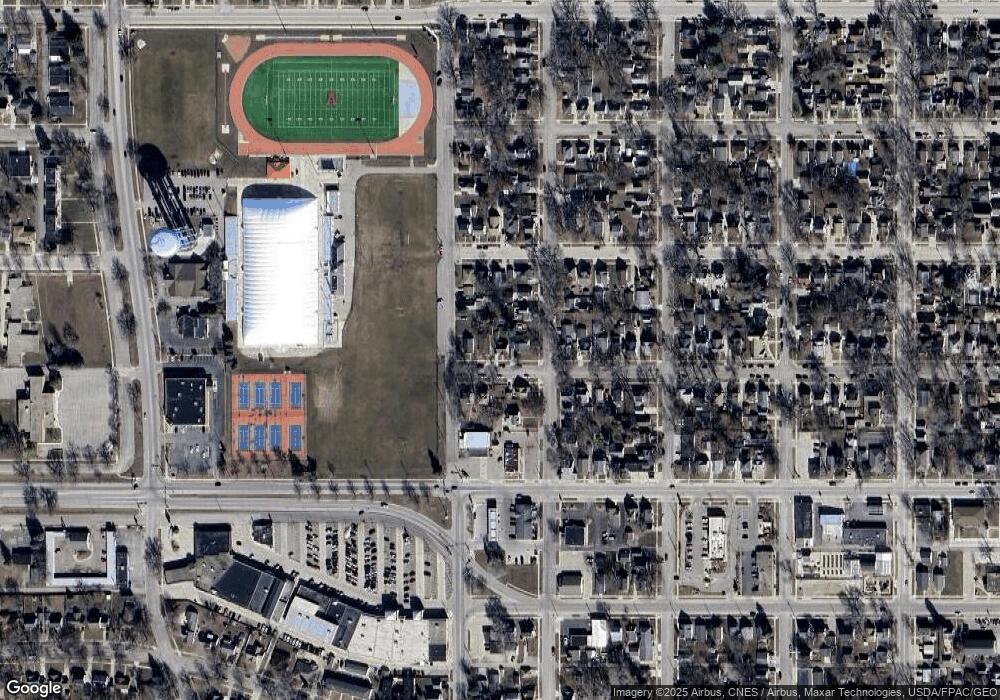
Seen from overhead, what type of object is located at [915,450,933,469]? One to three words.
house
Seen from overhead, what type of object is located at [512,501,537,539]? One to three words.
building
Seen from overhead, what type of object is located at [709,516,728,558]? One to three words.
building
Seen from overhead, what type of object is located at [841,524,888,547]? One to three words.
shed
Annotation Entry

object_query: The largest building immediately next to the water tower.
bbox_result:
[166,264,208,297]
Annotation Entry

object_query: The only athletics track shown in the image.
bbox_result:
[229,43,433,155]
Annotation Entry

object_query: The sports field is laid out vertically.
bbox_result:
[308,175,437,478]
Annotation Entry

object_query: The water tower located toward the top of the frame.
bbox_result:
[149,226,203,260]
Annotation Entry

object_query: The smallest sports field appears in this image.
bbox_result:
[243,57,399,142]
